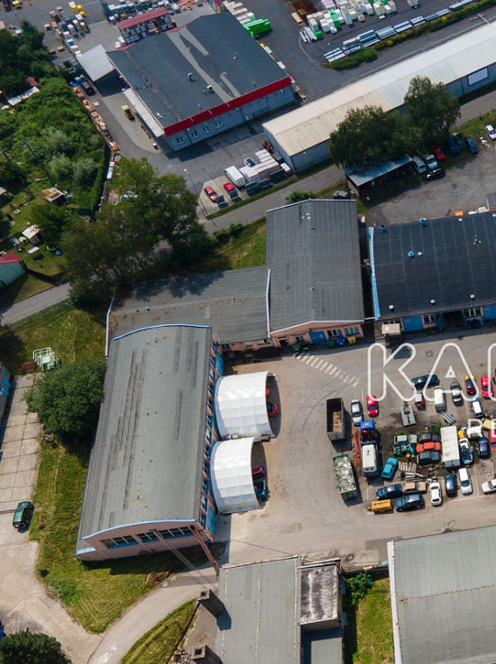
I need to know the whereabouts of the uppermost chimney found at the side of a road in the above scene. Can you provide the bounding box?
[194,586,223,623]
